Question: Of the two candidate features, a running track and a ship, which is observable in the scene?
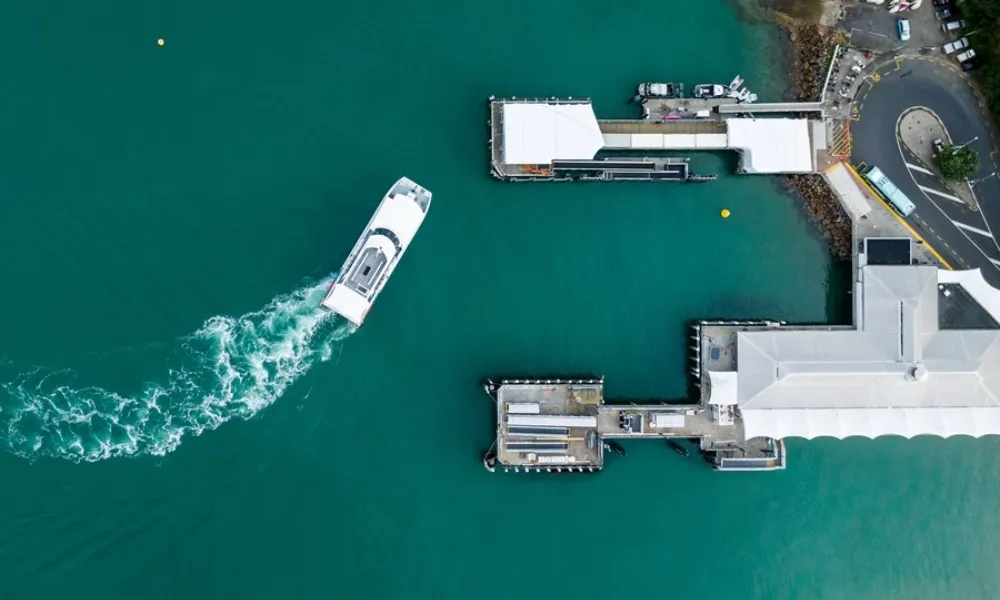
ship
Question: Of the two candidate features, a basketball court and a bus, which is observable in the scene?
bus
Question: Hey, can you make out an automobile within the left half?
No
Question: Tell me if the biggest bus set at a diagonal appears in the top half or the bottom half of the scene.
top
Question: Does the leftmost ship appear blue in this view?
No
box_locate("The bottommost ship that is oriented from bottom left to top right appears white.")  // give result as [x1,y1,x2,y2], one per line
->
[321,177,433,328]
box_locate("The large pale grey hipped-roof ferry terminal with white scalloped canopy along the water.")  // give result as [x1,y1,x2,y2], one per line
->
[736,237,1000,439]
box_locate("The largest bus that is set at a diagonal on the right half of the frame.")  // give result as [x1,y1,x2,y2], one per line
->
[860,166,915,217]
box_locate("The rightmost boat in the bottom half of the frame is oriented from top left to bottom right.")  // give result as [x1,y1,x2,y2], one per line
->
[668,439,688,455]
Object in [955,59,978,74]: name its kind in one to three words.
car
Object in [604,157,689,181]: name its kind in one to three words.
pier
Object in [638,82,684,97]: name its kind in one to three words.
boat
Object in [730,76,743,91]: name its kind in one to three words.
boat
